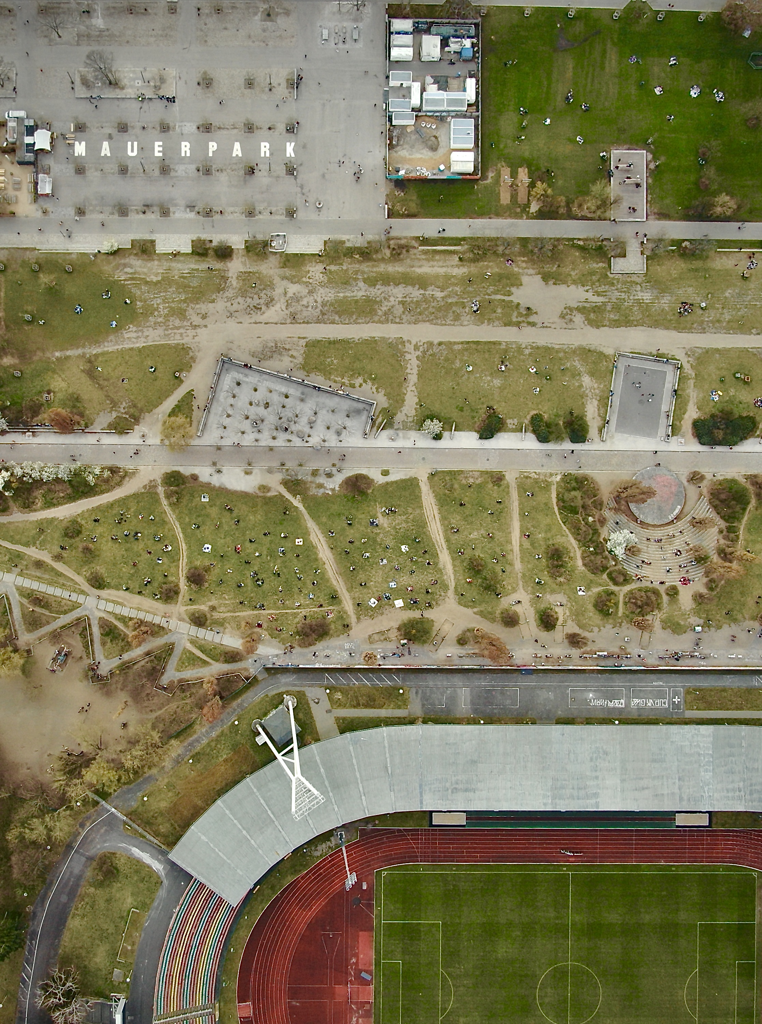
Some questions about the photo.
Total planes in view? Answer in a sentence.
There are no planes in this view.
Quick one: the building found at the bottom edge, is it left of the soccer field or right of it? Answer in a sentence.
The building found at the bottom edge appears to the left of the soccer field in this view.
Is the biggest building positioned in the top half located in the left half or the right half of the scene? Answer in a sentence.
The biggest building positioned in the top half sits on the left side.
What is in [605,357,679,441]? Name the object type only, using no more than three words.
sports court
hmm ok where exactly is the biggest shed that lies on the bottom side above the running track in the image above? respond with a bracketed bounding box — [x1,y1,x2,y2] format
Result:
[262,705,301,746]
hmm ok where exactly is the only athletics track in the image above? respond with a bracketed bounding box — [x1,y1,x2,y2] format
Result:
[237,828,762,1024]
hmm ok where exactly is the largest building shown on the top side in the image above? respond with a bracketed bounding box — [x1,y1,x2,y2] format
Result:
[16,119,39,166]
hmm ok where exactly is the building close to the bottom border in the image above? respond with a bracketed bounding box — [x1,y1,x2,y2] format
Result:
[78,994,118,1024]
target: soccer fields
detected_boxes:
[375,863,762,1024]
